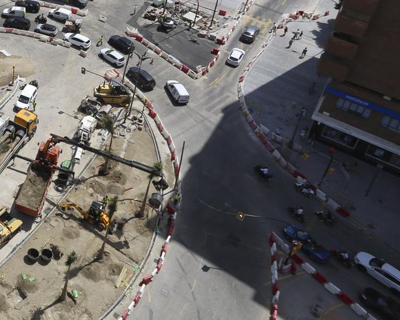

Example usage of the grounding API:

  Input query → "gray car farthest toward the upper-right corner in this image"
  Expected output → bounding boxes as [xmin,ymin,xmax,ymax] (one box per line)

[242,24,261,41]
